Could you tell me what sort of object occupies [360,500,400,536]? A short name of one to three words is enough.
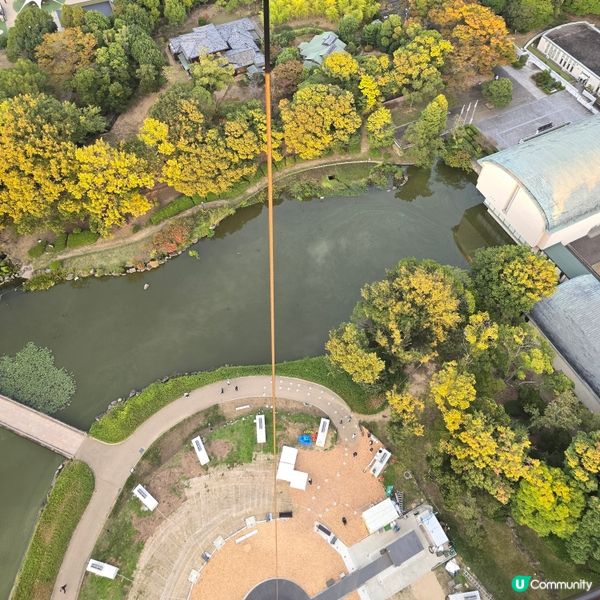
tent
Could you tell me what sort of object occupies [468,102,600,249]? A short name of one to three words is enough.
building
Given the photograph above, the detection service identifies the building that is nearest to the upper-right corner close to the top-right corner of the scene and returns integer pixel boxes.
[537,22,600,92]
